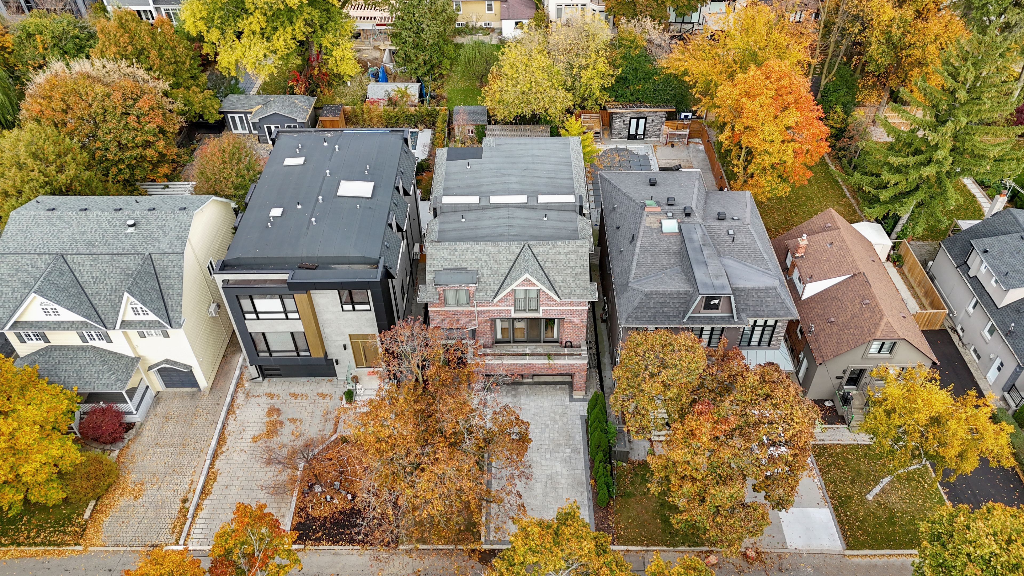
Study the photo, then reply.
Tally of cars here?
0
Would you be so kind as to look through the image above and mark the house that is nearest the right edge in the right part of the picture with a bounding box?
[932,190,1024,420]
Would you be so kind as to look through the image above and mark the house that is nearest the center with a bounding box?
[417,136,604,397]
